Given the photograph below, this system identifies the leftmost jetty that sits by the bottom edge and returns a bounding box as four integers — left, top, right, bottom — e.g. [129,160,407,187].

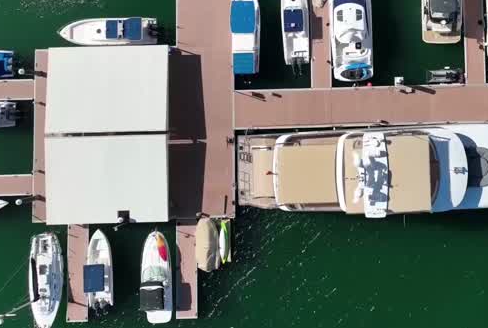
[67,224,89,321]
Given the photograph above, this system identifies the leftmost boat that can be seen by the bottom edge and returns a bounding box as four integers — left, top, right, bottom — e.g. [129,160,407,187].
[0,228,73,328]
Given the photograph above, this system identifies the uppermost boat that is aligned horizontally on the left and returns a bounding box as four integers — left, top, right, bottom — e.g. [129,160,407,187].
[57,16,164,45]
